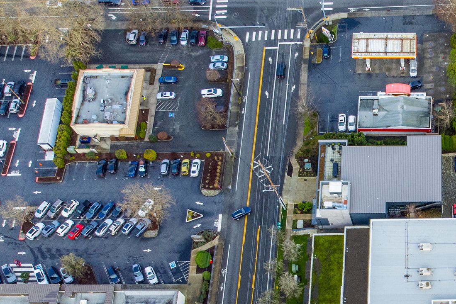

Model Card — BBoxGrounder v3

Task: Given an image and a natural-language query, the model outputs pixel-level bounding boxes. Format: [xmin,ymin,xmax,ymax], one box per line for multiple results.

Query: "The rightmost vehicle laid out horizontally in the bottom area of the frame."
[231,208,252,220]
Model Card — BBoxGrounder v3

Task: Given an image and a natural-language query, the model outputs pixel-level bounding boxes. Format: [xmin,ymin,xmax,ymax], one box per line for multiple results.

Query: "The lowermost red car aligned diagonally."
[67,222,85,241]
